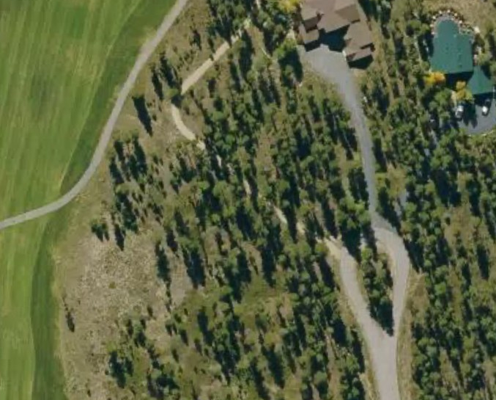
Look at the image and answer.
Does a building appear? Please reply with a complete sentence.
Yes, the photo shows a building.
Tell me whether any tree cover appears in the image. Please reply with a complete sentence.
Yes, tree cover can be seen from above here.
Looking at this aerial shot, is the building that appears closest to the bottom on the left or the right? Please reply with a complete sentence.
The building that appears closest to the bottom sits on the right side.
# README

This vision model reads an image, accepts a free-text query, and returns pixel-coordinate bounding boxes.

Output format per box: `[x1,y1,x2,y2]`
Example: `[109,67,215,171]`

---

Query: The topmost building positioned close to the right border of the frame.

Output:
[432,16,474,73]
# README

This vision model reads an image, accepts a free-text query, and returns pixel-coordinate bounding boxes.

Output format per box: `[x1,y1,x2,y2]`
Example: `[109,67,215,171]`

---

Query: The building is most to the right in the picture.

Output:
[466,65,495,94]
